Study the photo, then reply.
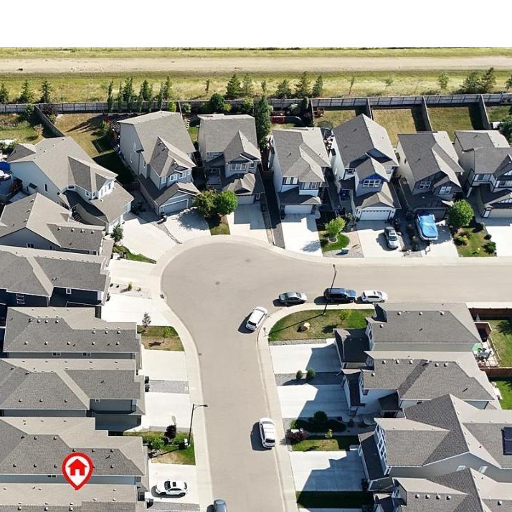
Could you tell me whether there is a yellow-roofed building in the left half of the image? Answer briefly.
No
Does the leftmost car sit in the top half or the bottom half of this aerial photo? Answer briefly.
bottom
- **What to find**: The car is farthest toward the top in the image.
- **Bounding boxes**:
[383,226,400,248]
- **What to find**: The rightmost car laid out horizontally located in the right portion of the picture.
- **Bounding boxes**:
[359,289,389,302]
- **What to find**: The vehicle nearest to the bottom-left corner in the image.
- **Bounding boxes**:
[152,478,190,499]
